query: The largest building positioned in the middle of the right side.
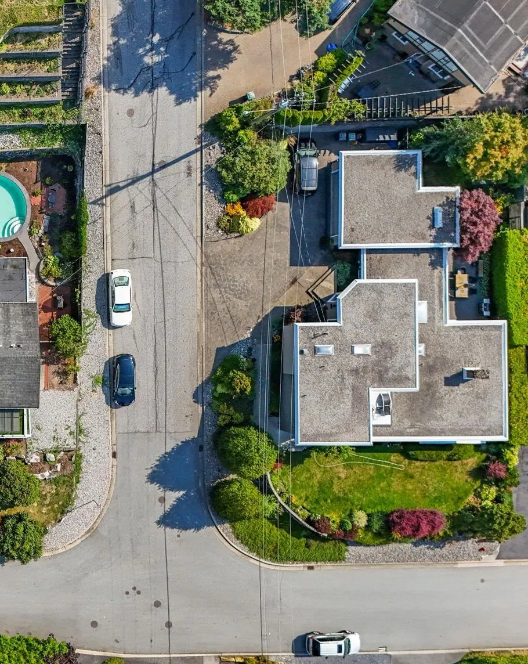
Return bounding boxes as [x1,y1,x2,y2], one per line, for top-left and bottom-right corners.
[272,151,507,447]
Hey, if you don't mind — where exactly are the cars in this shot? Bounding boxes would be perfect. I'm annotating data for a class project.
[304,627,361,657]
[312,0,361,38]
[110,354,137,407]
[108,268,135,329]
[289,138,321,199]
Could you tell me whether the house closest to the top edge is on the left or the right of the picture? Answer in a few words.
right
